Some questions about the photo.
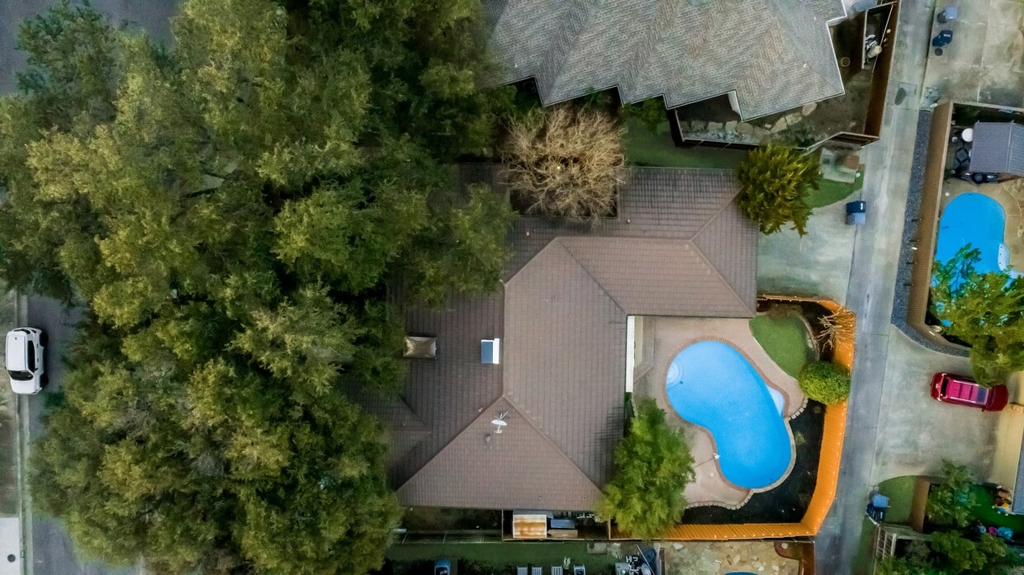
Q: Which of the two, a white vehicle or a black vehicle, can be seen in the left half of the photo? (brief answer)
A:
white vehicle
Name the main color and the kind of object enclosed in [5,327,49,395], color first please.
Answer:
white car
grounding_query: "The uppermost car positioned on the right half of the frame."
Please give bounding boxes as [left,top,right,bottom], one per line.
[925,373,1008,413]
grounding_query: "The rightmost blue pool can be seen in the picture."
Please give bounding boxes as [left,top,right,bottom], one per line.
[933,189,1024,330]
